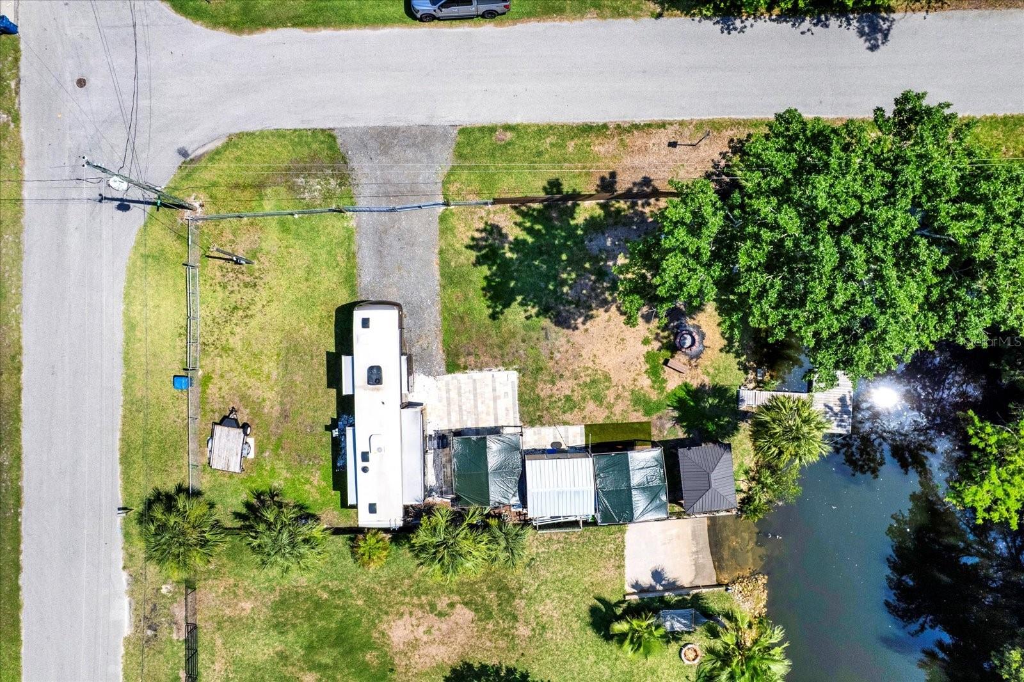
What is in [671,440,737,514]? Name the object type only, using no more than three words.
gazebo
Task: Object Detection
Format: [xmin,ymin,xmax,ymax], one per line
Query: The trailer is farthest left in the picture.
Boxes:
[206,401,250,474]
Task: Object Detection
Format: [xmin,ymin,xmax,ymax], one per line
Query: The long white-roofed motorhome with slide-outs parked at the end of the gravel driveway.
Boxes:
[342,306,430,531]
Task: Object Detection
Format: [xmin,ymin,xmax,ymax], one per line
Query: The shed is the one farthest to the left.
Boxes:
[526,434,596,518]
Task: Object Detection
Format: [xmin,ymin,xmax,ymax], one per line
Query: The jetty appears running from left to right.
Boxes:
[738,375,855,435]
